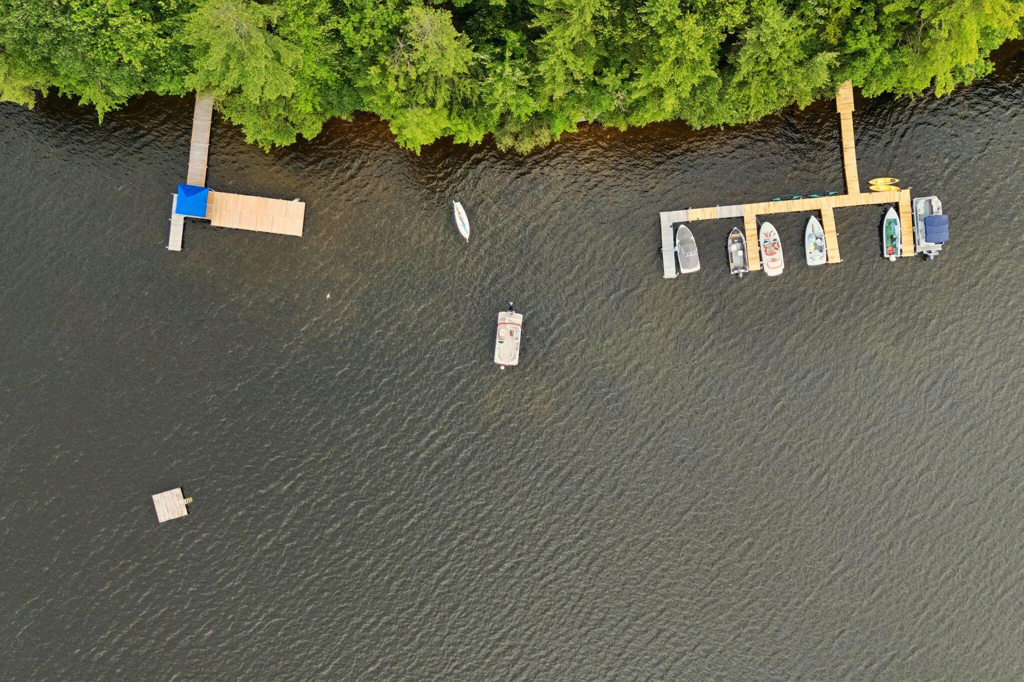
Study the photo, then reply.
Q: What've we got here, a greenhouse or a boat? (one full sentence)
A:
It is a boat that can be seen here.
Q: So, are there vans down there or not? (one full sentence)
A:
No, the frame has no van in it.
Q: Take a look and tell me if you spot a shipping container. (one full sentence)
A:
No, I find no shipping container anywhere in the image.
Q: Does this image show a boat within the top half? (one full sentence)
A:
Yes, the scene does show a boat within the top half.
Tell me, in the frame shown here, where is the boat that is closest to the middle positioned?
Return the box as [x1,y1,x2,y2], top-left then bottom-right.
[494,305,523,365]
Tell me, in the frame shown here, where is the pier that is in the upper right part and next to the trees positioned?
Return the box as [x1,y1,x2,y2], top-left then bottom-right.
[658,82,916,278]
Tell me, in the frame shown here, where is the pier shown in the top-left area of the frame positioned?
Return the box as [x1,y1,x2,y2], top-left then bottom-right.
[166,94,307,251]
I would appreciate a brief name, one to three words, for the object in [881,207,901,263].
boat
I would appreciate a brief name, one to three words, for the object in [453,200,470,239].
boat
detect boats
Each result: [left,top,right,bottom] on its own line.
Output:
[867,178,900,185]
[758,221,786,276]
[910,196,948,256]
[494,305,523,365]
[808,191,838,197]
[676,224,701,274]
[453,200,470,239]
[869,186,901,192]
[881,207,901,263]
[803,215,827,266]
[772,195,802,201]
[728,227,748,277]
